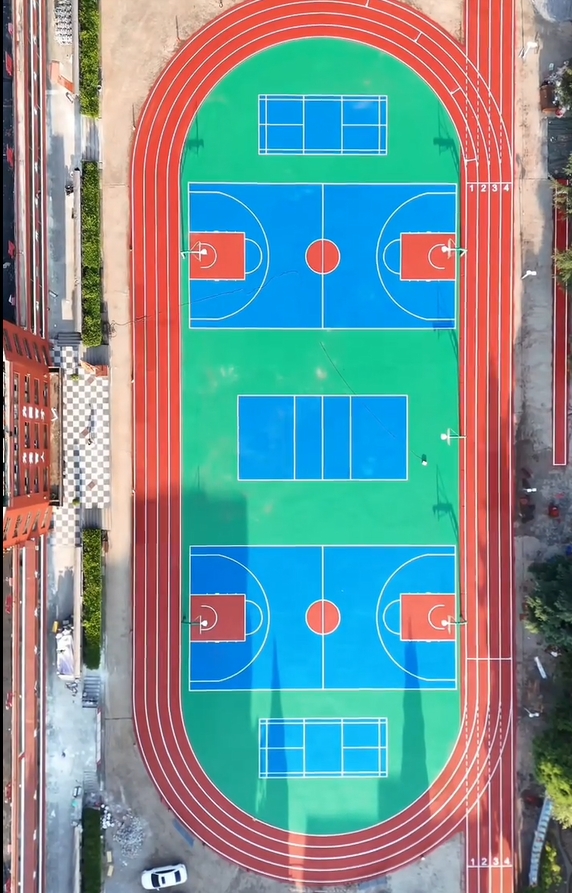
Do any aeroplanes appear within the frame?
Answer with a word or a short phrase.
No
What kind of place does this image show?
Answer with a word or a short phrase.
sports ground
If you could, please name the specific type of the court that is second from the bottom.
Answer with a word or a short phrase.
basketball court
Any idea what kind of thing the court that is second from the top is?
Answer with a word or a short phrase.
basketball court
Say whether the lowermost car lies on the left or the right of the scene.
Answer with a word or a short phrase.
left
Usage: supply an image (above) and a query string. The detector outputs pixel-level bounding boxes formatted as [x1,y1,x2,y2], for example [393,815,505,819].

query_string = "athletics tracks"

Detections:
[132,0,518,893]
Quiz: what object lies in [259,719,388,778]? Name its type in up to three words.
sports court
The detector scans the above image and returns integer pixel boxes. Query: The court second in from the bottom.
[189,546,457,691]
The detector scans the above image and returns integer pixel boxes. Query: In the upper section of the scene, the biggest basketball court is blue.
[189,182,457,329]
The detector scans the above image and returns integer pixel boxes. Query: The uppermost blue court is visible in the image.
[258,94,387,154]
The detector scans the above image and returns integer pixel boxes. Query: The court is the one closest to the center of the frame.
[237,395,408,481]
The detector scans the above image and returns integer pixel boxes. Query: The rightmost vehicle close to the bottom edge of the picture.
[141,863,188,890]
